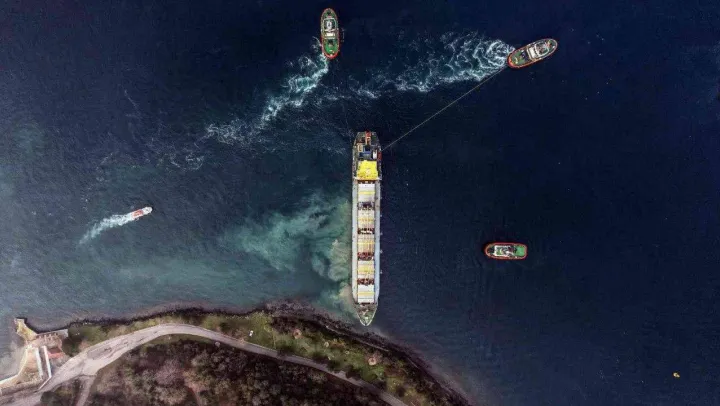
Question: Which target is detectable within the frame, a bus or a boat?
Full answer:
Of the two, only a boat appears.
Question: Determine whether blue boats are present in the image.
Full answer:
No, this view has no blue boat in it.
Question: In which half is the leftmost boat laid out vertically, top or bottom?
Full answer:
You can find the leftmost boat laid out vertically in the top half.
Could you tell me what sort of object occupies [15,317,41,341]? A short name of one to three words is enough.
pier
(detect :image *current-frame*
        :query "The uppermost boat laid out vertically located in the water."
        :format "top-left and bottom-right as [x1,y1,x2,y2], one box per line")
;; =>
[320,6,340,58]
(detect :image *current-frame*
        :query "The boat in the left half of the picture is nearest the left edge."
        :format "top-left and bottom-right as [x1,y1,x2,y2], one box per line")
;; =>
[129,208,153,221]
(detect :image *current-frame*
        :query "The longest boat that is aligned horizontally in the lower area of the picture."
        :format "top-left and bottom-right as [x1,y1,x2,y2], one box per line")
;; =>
[484,243,529,260]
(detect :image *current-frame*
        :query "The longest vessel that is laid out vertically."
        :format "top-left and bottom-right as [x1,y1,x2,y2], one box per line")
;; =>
[352,130,382,326]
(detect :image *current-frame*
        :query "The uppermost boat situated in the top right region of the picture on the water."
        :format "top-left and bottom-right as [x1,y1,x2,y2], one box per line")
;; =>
[508,38,558,67]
